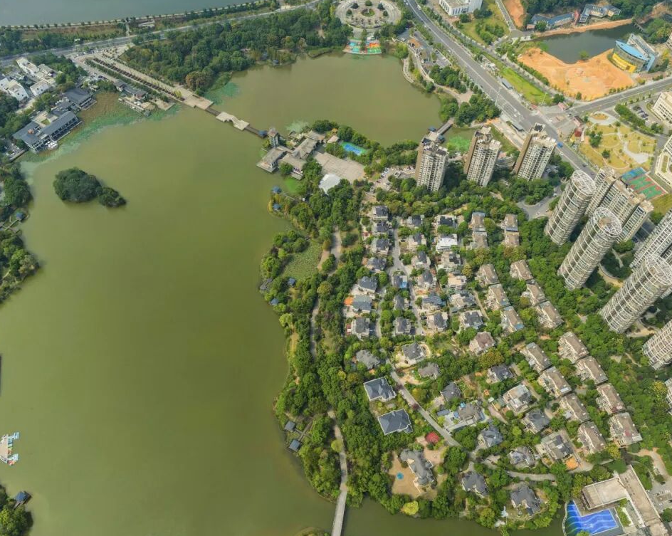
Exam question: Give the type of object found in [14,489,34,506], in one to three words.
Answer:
gazebo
